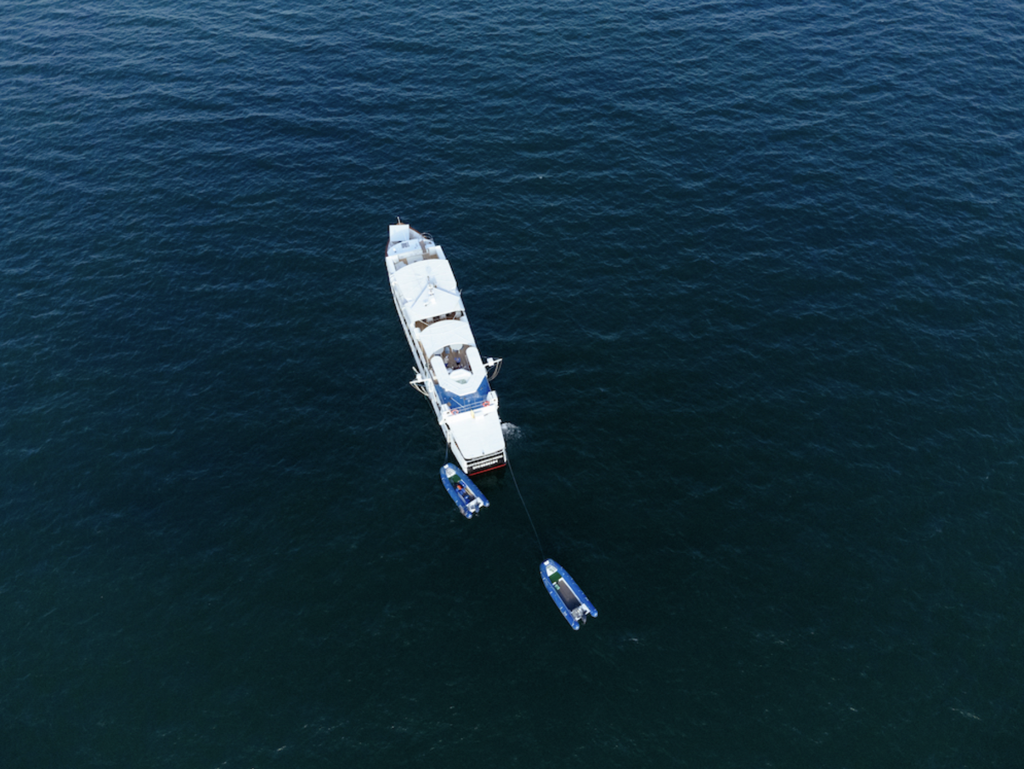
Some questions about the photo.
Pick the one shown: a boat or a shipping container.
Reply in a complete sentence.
This aerial view contains a boat.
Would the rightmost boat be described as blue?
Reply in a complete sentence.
Yes, the rightmost boat is blue.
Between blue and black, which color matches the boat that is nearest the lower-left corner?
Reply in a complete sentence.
The boat that is nearest the lower-left corner is blue.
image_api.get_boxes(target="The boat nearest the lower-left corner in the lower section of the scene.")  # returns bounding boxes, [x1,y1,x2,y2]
[439,462,489,519]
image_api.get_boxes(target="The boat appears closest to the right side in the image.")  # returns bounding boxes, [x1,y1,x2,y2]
[538,558,596,629]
